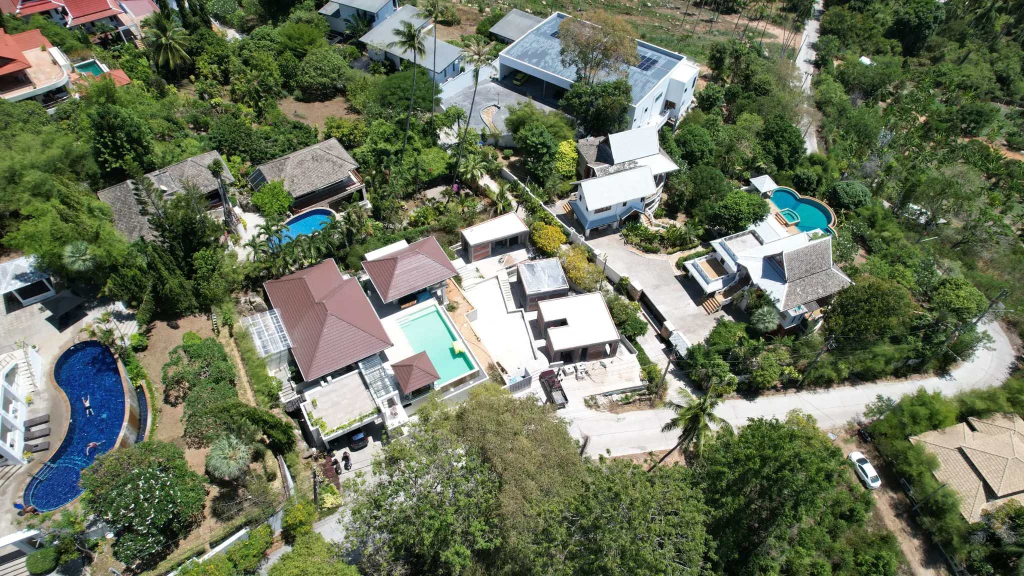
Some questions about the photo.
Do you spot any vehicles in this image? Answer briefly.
Yes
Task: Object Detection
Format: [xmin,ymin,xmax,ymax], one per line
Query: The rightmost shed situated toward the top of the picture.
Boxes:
[900,203,939,230]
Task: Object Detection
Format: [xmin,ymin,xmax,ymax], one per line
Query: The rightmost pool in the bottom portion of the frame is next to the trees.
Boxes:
[397,299,476,406]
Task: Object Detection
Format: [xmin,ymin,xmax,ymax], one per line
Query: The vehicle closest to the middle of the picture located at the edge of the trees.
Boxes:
[538,372,572,410]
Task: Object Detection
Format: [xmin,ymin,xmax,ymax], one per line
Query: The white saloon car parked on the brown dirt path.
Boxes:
[843,452,886,494]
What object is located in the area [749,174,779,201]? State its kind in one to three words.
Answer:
gazebo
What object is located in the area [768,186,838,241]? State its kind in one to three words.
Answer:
swimming pool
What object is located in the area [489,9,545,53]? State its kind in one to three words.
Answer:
house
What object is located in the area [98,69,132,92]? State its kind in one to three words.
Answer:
building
